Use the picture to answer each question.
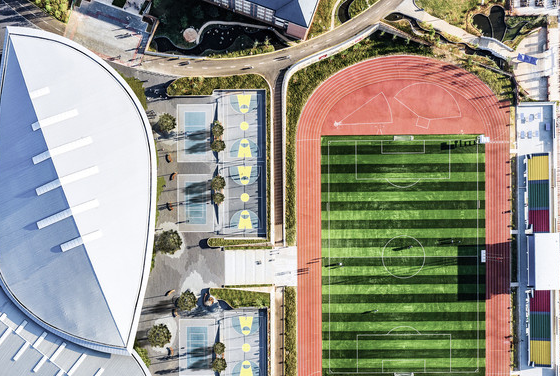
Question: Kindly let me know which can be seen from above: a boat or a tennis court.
tennis court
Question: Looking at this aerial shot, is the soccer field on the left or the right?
right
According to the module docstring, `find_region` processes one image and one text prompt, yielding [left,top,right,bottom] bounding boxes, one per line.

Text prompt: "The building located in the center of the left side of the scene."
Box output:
[0,28,157,354]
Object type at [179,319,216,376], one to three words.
sports court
